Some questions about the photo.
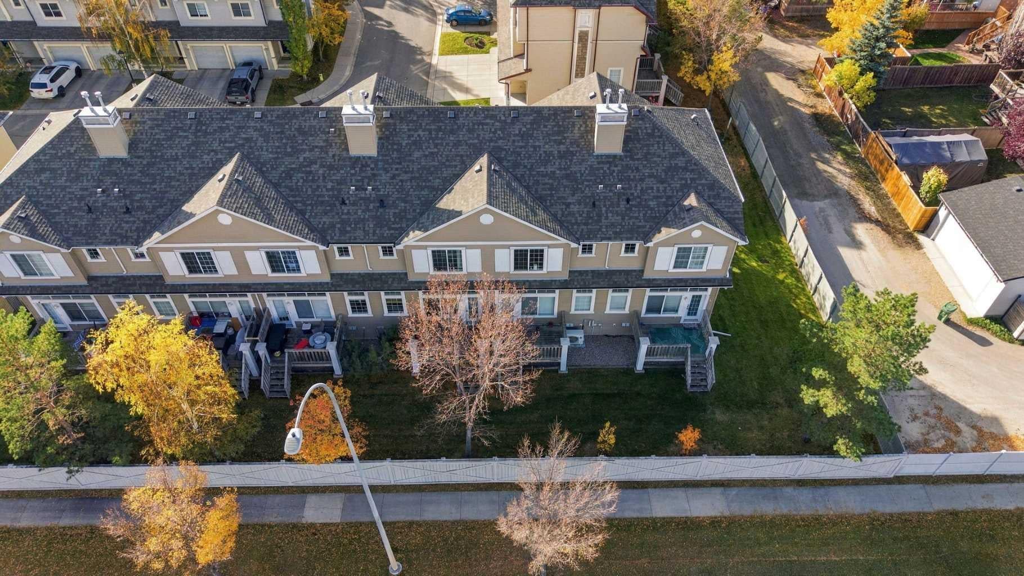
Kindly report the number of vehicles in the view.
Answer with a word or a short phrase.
3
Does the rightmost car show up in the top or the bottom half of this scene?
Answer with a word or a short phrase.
top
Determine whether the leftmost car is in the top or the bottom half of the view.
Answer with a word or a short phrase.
top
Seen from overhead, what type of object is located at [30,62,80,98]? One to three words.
car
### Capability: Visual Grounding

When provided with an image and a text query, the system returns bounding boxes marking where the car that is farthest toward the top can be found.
[444,4,493,26]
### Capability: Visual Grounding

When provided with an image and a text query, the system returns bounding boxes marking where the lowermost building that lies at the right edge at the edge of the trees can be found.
[923,171,1024,330]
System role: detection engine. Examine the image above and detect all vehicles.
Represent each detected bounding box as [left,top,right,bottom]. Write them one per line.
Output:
[224,63,263,105]
[30,62,80,98]
[444,4,493,26]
